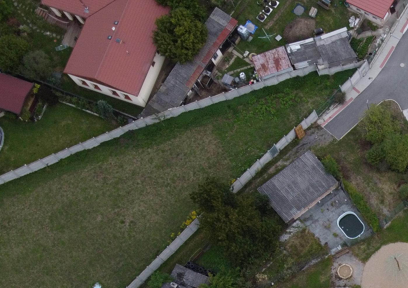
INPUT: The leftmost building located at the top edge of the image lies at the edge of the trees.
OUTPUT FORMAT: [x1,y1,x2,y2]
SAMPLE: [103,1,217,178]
[41,0,171,104]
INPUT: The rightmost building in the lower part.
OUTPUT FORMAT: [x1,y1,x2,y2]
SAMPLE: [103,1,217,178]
[259,150,341,225]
